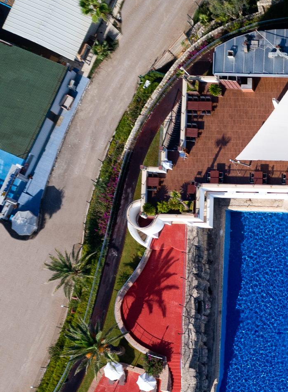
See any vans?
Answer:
No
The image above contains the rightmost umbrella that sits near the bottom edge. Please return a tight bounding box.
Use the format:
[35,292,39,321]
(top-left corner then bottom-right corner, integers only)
[137,373,157,392]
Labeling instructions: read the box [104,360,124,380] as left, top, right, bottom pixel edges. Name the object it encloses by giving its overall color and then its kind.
white umbrella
